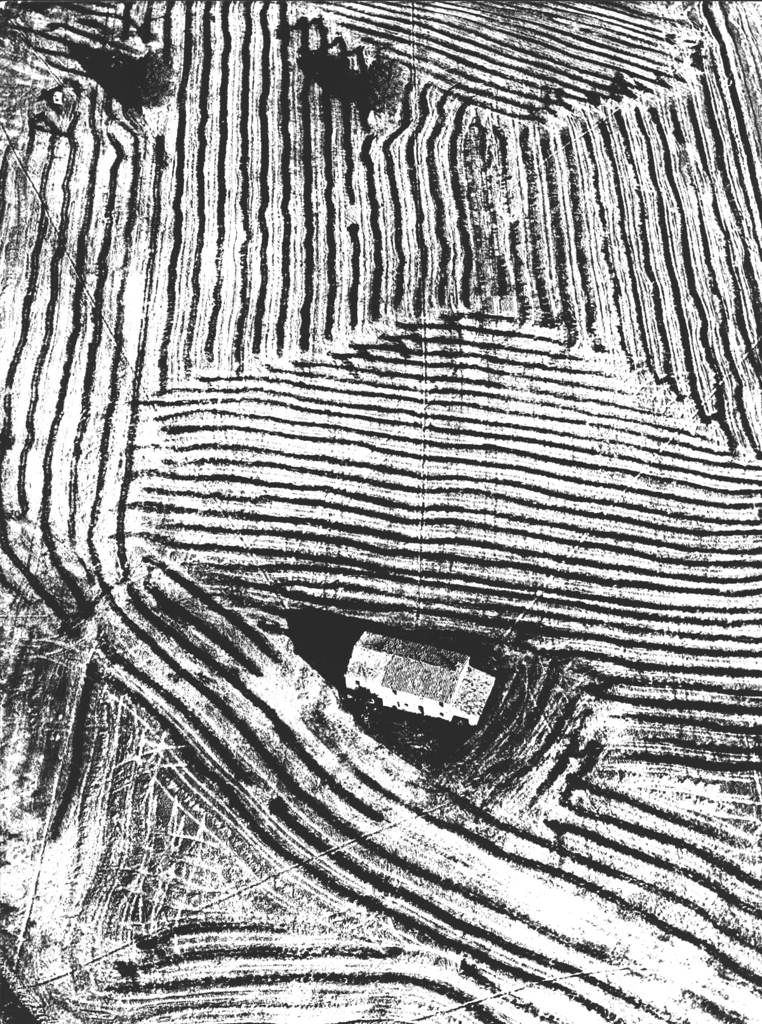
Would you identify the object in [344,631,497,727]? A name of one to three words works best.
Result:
house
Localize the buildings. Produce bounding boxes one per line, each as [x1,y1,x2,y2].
[344,631,497,727]
[53,90,66,107]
